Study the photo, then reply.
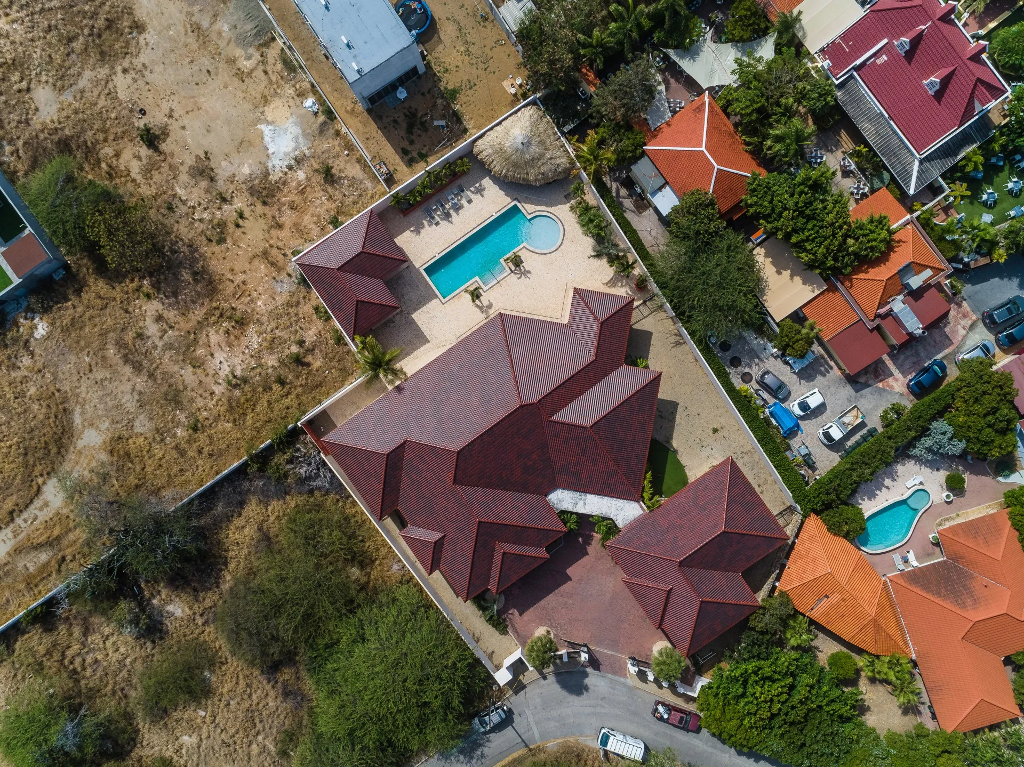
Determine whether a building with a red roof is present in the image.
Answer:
Yes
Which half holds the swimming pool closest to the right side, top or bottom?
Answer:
bottom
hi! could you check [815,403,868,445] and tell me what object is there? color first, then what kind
white truck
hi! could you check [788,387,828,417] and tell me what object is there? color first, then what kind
white car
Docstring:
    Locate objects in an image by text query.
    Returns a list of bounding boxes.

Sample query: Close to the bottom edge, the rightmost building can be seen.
[888,503,1024,736]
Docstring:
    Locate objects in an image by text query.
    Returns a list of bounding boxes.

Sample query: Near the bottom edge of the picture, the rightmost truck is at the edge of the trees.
[647,696,702,732]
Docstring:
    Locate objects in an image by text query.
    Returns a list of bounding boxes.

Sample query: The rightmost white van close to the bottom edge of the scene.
[596,728,648,766]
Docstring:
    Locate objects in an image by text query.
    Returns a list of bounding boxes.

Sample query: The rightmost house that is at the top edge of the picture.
[799,0,1012,193]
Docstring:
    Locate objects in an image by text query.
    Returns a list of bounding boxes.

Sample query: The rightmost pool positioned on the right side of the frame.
[854,486,934,554]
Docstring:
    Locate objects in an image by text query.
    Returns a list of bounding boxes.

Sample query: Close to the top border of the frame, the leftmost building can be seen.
[291,0,422,109]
